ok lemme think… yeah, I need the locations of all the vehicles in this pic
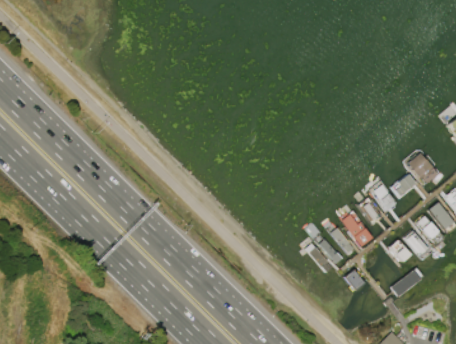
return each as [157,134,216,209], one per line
[414,326,419,334]
[422,330,428,338]
[110,176,120,186]
[436,332,442,342]
[184,310,195,320]
[258,333,266,342]
[91,171,100,180]
[16,99,25,108]
[46,186,56,196]
[429,331,434,340]
[247,312,256,320]
[36,104,44,113]
[206,270,214,278]
[63,133,72,142]
[46,128,55,136]
[224,302,233,310]
[191,248,200,256]
[141,198,150,207]
[60,178,70,188]
[92,161,100,170]
[0,159,8,169]
[74,164,82,172]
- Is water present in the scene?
Yes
